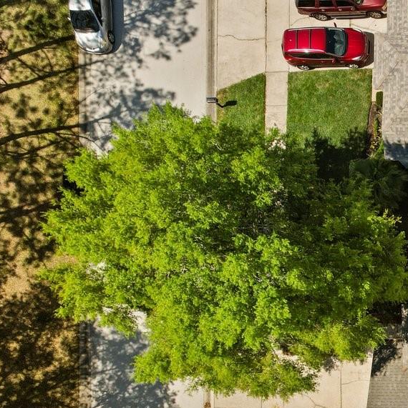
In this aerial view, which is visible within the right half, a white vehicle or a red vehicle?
red vehicle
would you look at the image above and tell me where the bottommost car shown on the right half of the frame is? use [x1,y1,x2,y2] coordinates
[284,26,370,73]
